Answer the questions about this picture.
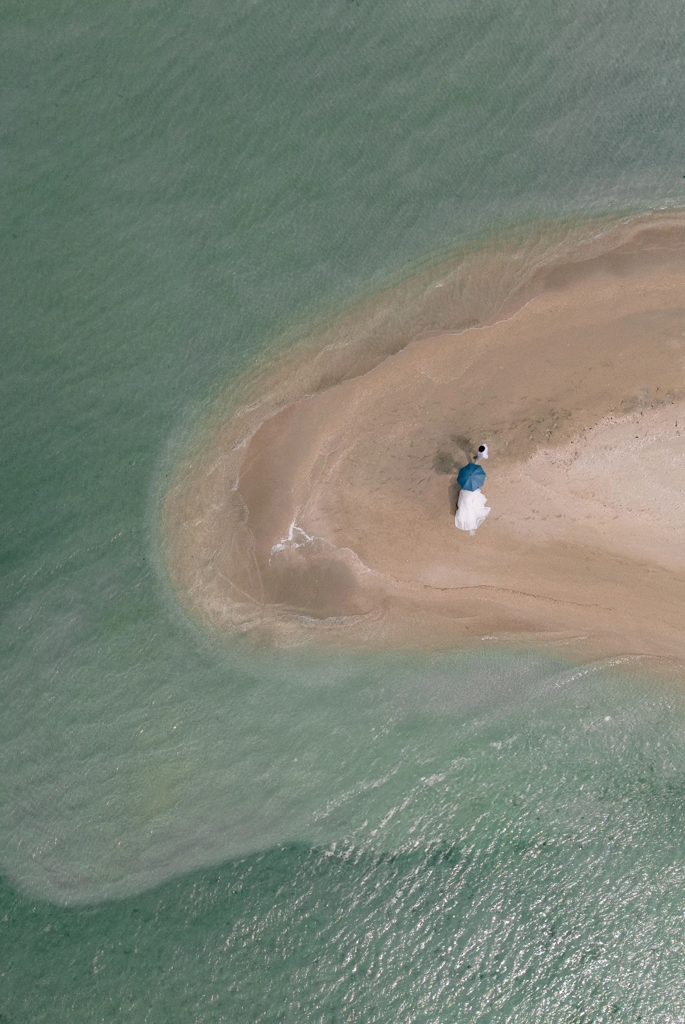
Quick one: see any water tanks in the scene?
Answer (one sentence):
No, the scene contains no water tank.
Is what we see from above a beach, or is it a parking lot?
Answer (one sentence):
This image shows a beach.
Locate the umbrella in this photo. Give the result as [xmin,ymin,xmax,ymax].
[456,464,487,492]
